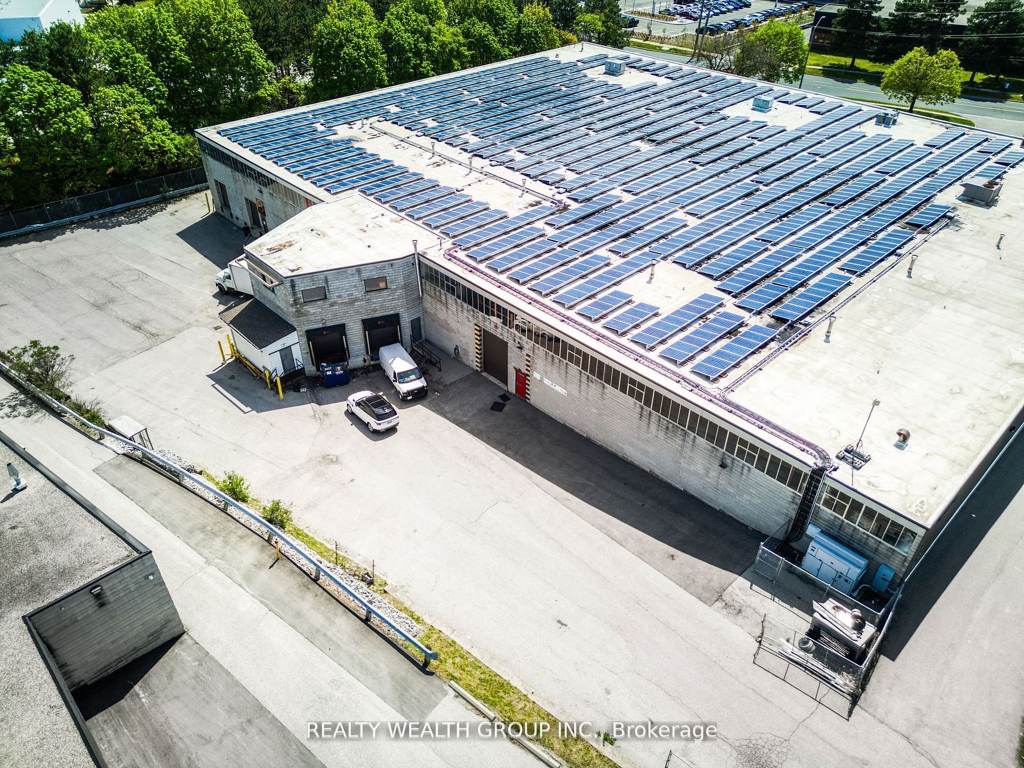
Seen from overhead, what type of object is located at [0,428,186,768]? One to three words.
building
